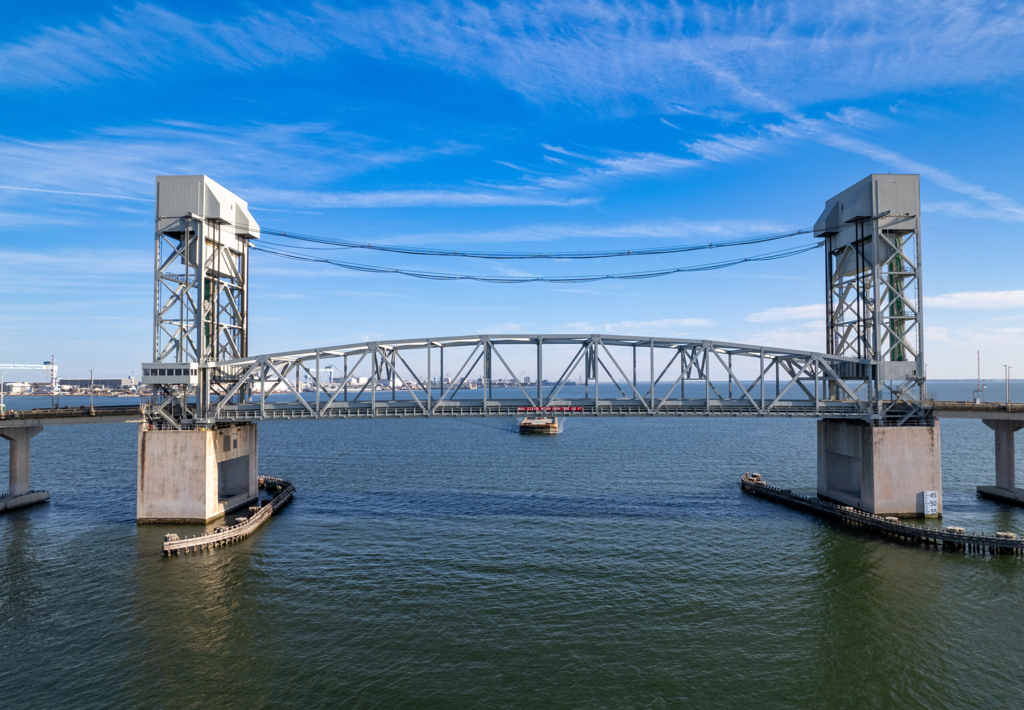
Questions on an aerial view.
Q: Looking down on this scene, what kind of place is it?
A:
port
